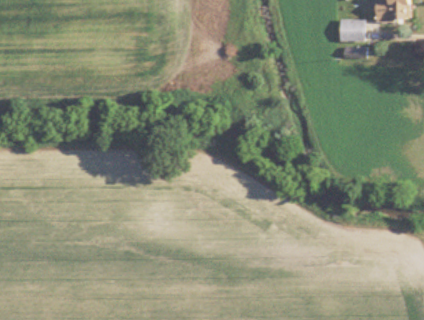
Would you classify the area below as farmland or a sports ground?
farmland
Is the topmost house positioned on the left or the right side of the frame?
right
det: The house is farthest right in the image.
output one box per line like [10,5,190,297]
[374,0,412,24]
